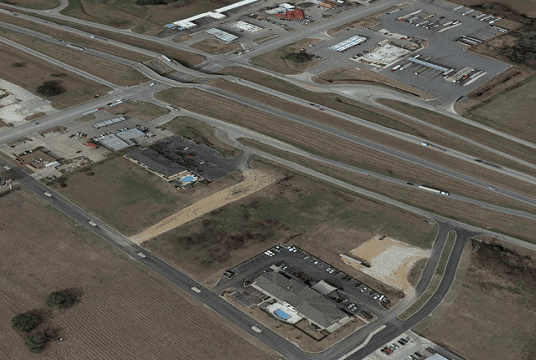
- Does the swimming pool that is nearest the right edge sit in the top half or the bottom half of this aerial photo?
bottom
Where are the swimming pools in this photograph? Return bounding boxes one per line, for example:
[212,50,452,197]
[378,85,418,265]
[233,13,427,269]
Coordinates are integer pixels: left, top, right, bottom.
[174,172,202,188]
[267,303,301,323]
